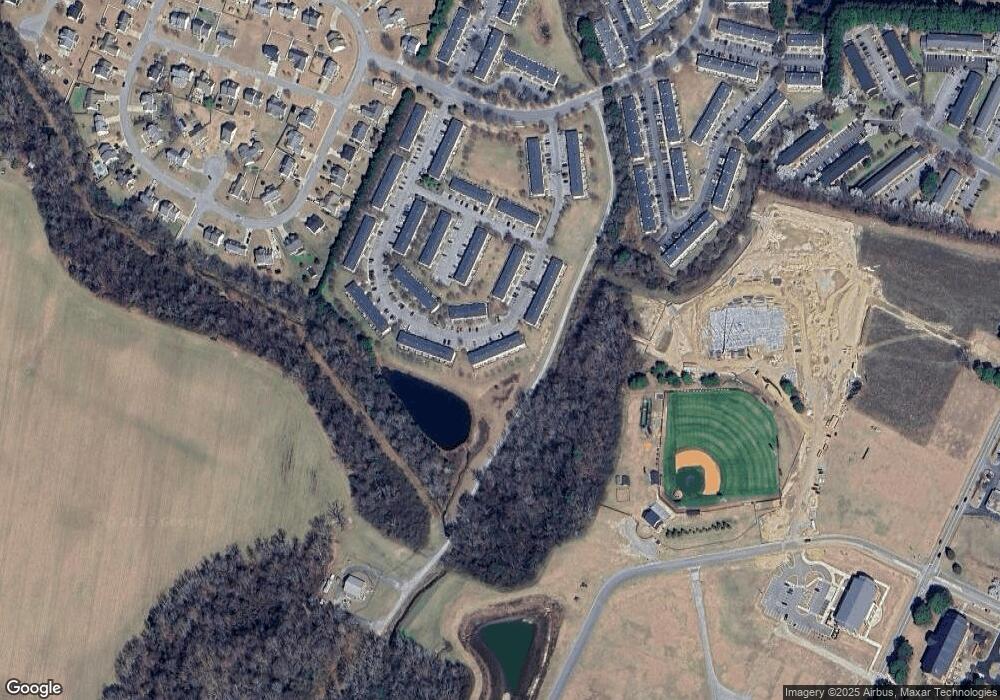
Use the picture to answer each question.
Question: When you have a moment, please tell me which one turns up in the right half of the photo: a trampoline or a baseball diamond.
baseball diamond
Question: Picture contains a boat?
No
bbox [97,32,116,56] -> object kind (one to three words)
house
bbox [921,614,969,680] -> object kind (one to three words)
building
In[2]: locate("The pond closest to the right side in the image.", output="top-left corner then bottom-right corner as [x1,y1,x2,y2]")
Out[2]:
[479,618,536,694]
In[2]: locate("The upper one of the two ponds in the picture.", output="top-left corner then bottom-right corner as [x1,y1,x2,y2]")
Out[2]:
[383,367,472,450]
